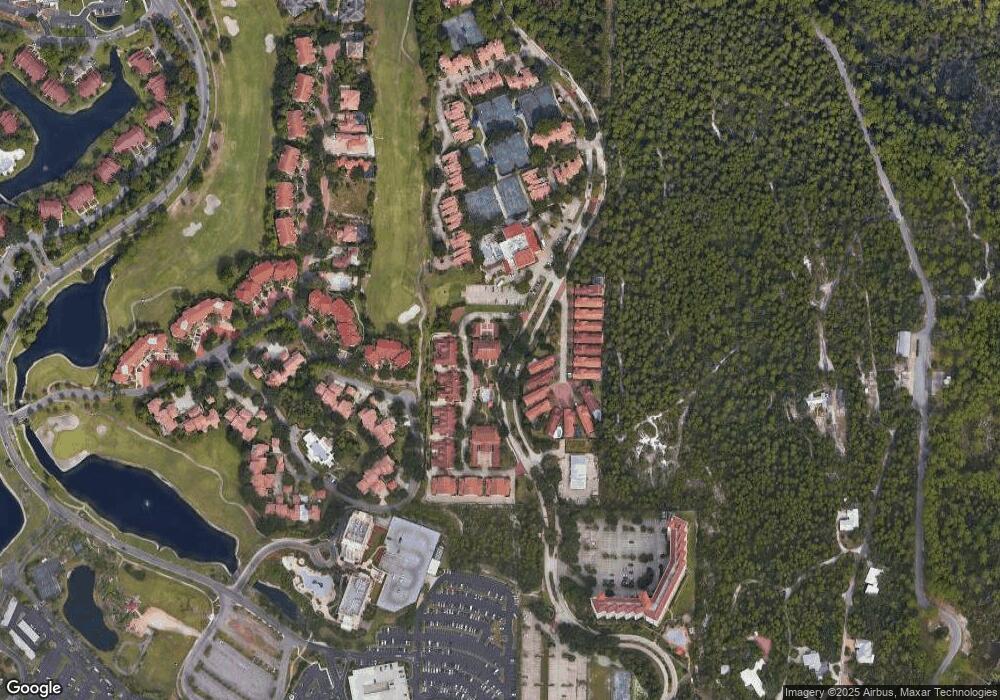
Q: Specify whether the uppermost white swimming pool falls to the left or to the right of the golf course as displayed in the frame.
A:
on its left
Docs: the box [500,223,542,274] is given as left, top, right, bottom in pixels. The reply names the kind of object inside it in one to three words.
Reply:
building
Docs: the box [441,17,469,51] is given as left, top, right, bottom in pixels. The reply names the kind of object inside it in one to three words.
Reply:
tennis court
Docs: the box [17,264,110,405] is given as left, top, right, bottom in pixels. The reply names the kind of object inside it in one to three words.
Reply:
pond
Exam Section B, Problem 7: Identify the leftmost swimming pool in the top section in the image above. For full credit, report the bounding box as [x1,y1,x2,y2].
[0,148,24,176]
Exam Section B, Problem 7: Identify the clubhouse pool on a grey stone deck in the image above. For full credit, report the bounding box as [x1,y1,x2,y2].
[480,230,506,267]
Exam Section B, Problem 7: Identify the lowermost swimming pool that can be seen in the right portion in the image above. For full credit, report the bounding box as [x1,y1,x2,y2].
[663,625,690,646]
